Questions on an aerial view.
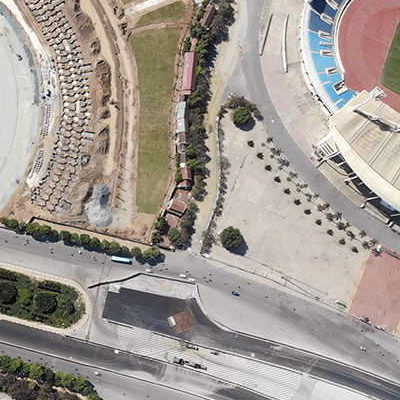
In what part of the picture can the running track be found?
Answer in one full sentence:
The running track is located in the top right region of the scene.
